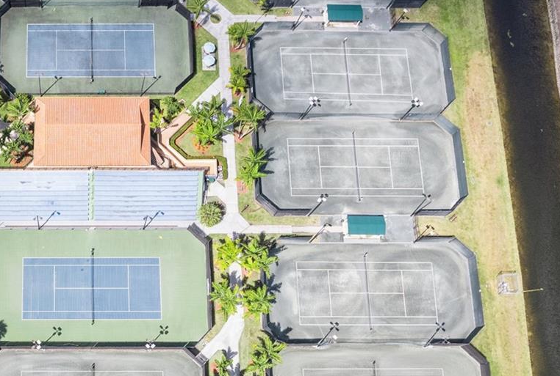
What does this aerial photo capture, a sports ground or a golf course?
sports ground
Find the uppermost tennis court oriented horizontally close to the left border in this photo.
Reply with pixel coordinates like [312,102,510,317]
[0,0,193,86]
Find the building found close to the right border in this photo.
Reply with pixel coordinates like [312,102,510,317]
[498,269,544,295]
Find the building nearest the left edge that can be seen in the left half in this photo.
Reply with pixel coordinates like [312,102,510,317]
[33,96,151,169]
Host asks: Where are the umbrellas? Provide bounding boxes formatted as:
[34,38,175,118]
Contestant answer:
[203,42,216,55]
[203,56,216,69]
